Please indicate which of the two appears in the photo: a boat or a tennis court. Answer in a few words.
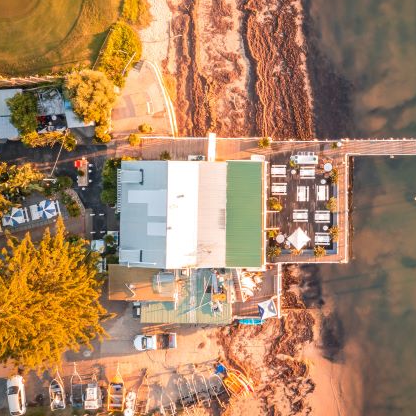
boat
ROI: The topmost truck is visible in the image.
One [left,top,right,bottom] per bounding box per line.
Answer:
[137,331,182,353]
